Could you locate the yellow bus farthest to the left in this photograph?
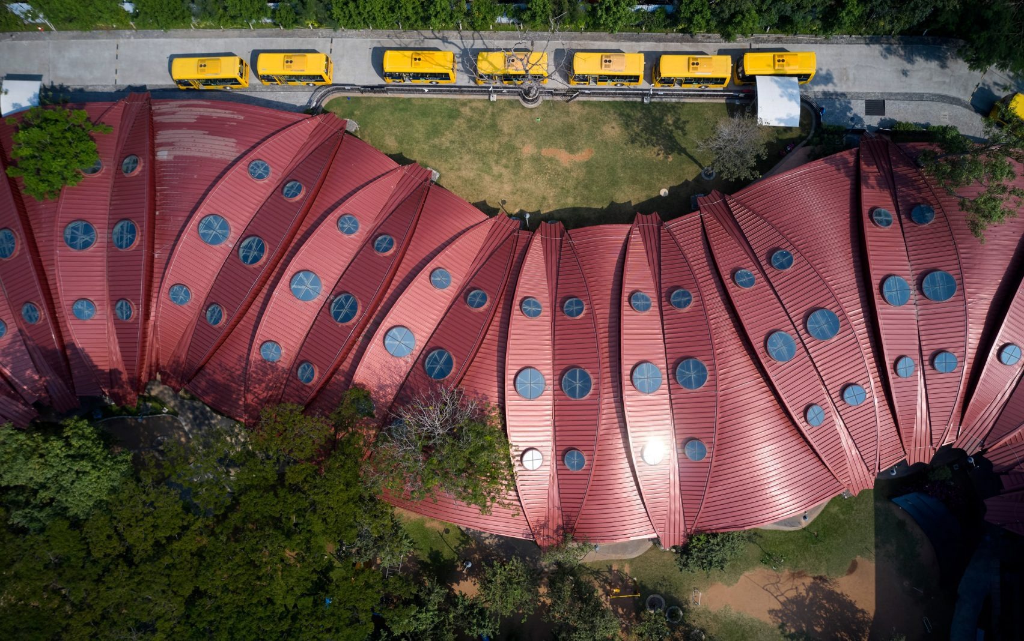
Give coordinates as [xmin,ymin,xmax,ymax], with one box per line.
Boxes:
[170,56,255,92]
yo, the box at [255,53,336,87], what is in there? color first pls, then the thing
yellow bus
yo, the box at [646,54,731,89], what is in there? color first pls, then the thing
yellow bus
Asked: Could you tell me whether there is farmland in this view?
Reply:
No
